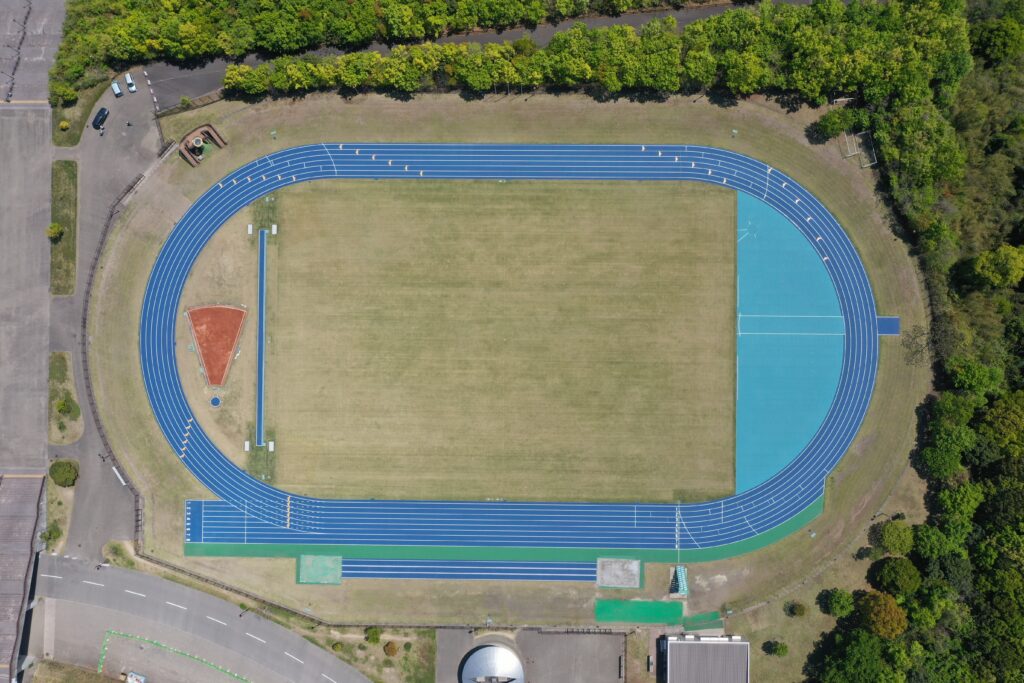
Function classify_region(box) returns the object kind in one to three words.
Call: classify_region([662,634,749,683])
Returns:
building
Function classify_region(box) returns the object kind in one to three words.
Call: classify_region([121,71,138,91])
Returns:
car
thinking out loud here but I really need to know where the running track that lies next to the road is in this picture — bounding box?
[139,143,879,589]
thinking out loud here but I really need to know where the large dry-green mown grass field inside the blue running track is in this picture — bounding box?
[274,179,737,502]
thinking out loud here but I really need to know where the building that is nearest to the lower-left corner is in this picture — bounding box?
[461,640,526,683]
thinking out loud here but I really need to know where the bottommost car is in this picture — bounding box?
[90,107,109,129]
